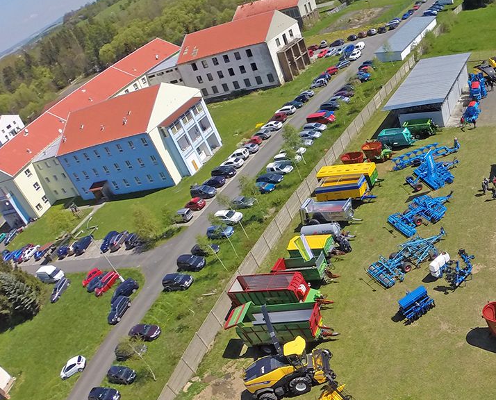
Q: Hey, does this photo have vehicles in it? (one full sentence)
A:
Yes, a vehicle is visible in the scene.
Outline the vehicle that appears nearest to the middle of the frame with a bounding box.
[232,192,258,210]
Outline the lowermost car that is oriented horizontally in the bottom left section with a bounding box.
[86,383,123,400]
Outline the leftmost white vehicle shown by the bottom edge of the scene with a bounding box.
[60,351,89,383]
